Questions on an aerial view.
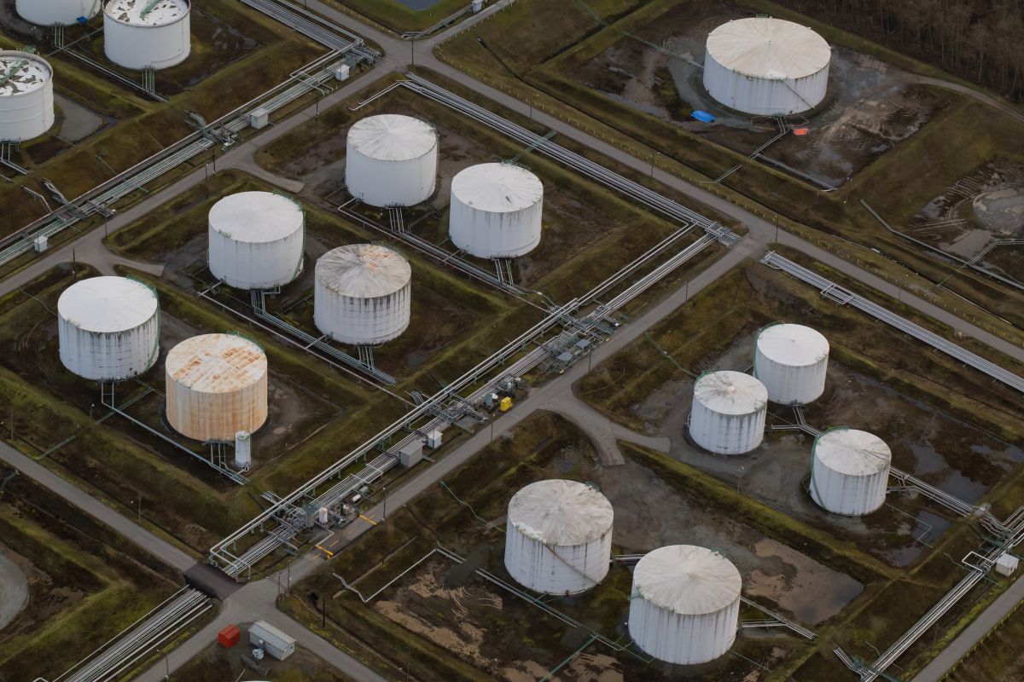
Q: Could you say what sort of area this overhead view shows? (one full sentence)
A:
The picture captures an industrial area.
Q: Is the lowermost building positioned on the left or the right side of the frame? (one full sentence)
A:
The lowermost building appears in the left half of the scene.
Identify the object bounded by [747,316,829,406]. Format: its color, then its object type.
white storage tank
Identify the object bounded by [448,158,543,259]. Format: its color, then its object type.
white storage tank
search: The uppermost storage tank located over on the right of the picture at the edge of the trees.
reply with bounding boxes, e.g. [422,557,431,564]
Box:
[702,12,831,116]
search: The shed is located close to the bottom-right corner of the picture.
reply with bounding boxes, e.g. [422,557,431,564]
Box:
[996,553,1019,577]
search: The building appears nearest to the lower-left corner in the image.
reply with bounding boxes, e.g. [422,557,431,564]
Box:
[251,623,295,662]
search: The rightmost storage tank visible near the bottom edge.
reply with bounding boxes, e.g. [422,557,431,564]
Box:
[627,543,742,665]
